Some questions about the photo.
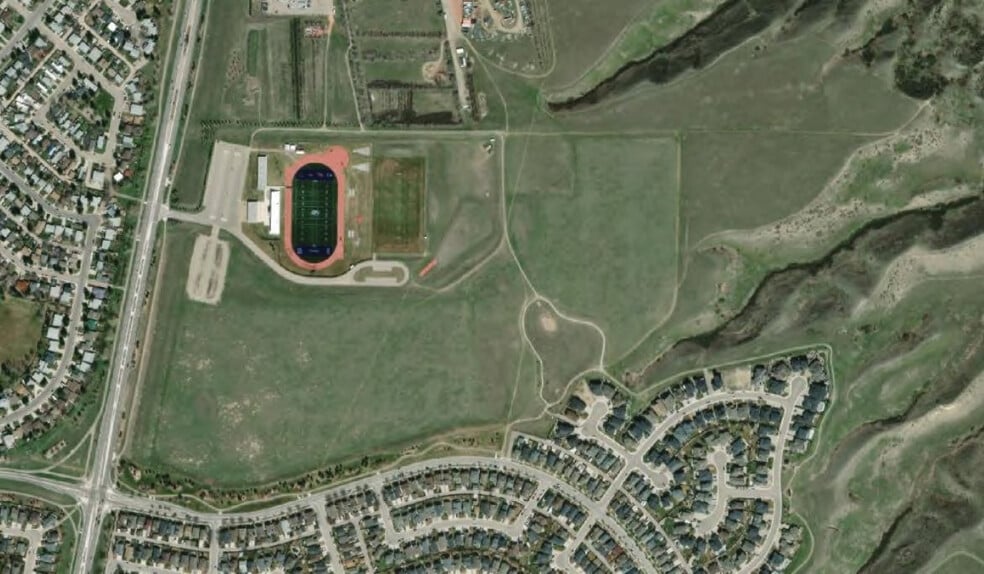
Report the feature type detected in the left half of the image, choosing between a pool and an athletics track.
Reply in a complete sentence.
There is an athletics track in the left half of the image.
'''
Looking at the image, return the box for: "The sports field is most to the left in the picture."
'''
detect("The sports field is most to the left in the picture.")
[293,162,337,262]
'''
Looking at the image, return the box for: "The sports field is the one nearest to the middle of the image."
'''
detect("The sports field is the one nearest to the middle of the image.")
[374,157,427,255]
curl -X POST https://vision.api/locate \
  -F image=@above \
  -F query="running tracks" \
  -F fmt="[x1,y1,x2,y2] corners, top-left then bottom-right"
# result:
[285,145,349,271]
